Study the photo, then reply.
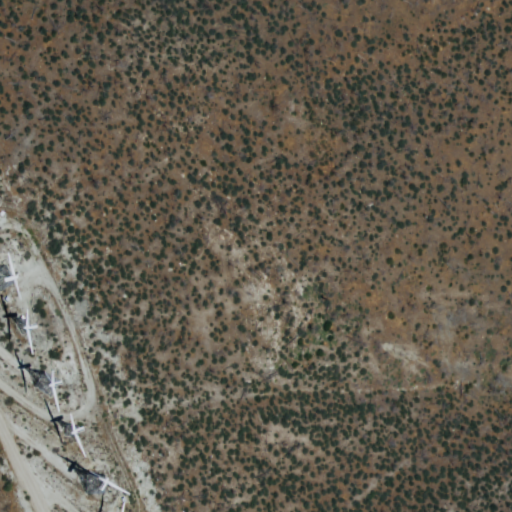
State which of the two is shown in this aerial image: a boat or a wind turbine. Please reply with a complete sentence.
This aerial view contains a wind turbine.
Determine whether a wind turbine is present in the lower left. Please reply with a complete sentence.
Yes, a wind turbine can be seen in the lower left.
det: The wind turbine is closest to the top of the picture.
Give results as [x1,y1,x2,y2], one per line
[0,254,22,298]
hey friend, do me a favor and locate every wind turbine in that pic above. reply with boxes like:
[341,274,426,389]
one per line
[88,474,130,495]
[0,254,22,298]
[64,414,86,456]
[38,371,65,410]
[18,310,40,352]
